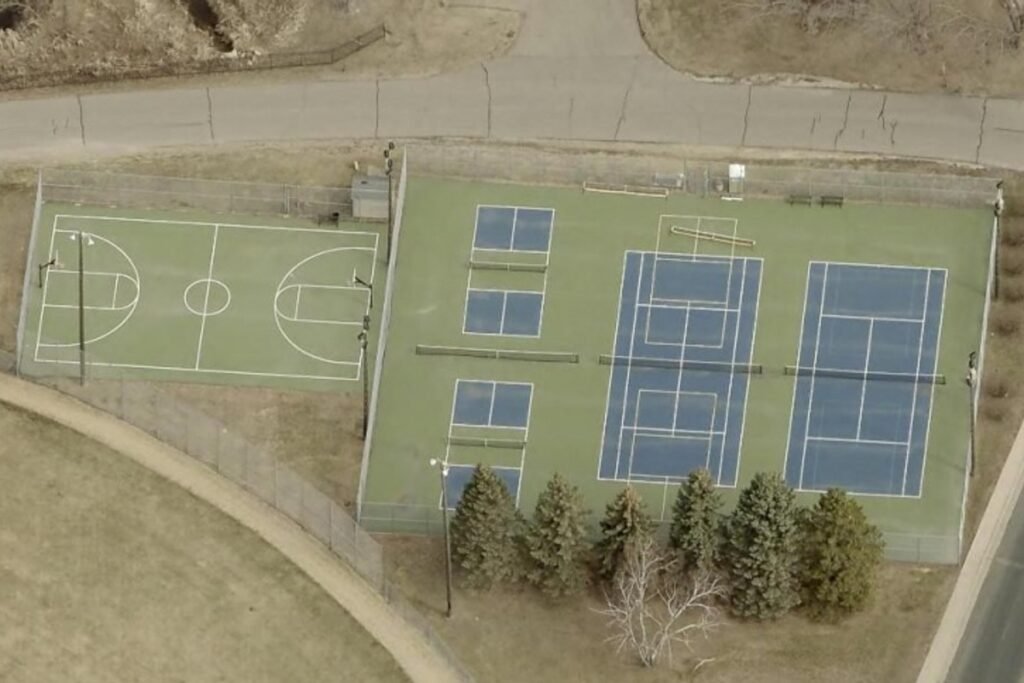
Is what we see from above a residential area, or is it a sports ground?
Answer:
sports ground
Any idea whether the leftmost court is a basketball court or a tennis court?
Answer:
basketball court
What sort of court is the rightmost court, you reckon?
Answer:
tennis court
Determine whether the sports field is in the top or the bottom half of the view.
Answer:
bottom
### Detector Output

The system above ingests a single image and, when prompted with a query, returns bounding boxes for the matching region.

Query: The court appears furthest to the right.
[782,261,947,498]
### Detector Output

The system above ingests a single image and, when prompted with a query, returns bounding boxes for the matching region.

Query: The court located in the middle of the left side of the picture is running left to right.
[21,203,396,391]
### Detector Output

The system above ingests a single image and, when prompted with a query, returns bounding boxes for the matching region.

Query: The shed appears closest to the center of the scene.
[350,177,392,219]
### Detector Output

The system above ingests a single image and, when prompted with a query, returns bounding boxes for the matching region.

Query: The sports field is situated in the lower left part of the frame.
[0,370,463,683]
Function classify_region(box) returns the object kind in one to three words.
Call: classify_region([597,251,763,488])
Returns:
tennis court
